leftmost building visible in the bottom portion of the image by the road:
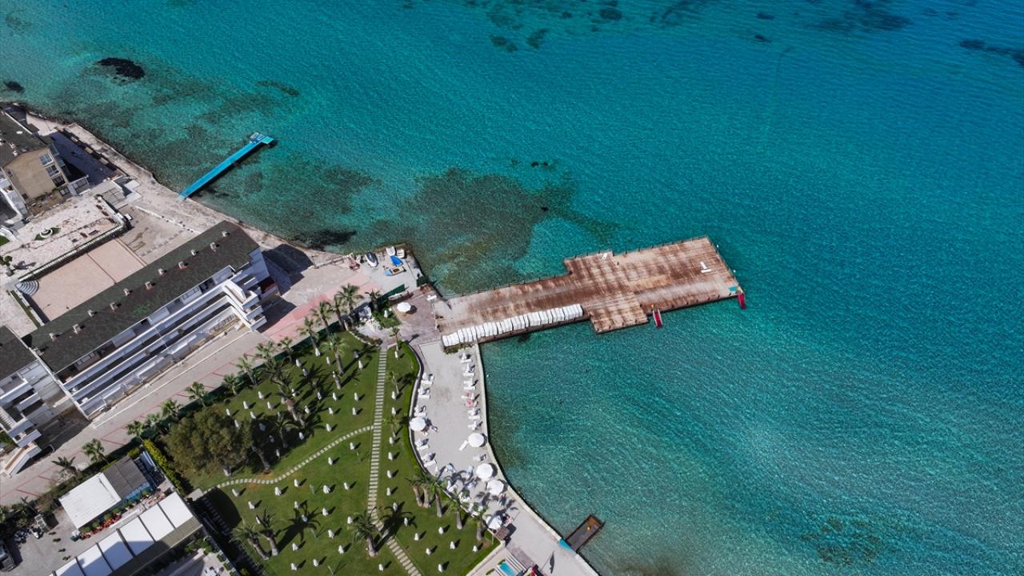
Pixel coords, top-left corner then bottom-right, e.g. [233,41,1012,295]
[0,326,78,475]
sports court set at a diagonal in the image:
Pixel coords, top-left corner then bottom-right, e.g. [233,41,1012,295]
[40,242,148,321]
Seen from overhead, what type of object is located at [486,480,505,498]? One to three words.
umbrella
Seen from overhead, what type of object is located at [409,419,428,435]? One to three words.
umbrella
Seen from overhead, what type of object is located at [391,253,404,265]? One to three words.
boat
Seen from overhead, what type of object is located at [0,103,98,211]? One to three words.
house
